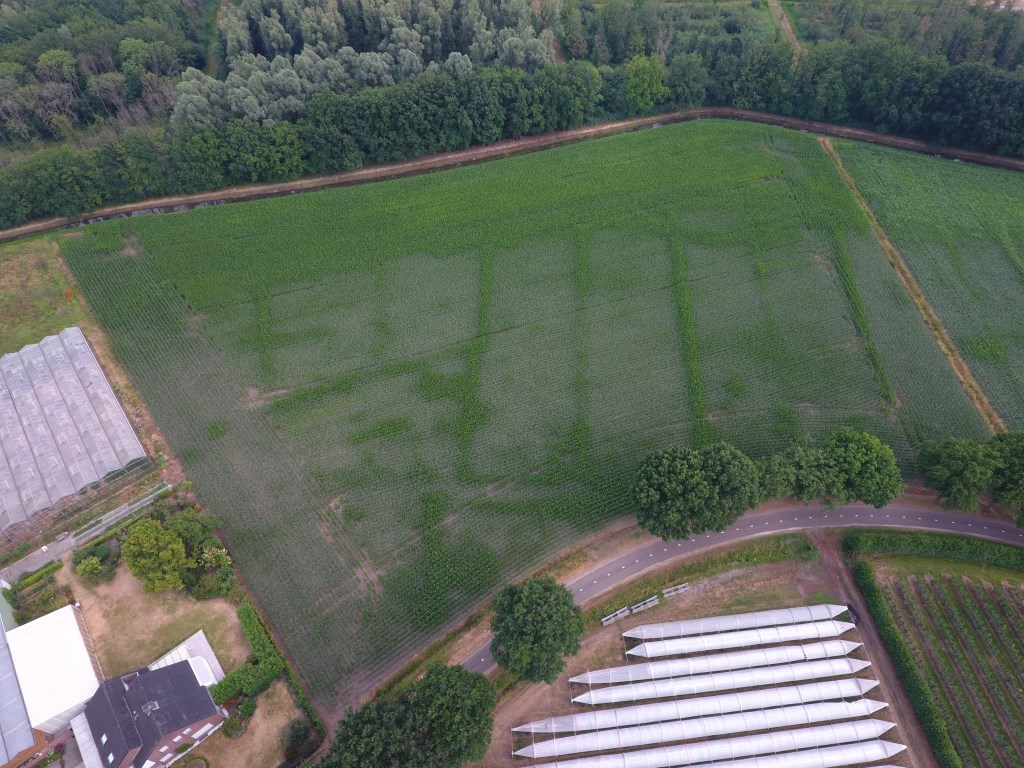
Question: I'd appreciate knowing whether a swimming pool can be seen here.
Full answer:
No, the picture doesn't show any swimming pool.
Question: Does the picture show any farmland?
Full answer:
Yes, farmland can be seen from above here.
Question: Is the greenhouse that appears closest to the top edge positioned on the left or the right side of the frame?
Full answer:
The greenhouse that appears closest to the top edge sits on the left side.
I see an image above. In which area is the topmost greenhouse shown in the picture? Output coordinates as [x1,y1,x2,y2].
[0,326,154,549]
